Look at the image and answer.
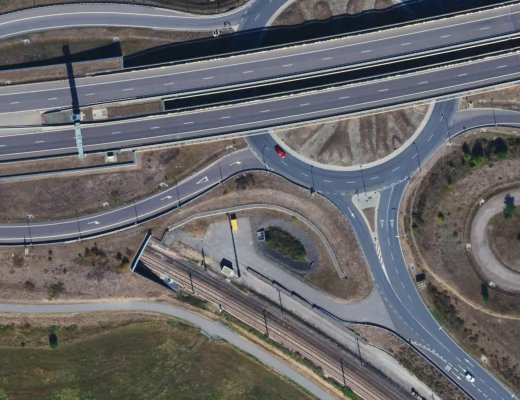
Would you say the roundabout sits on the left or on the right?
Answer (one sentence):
It is on the right.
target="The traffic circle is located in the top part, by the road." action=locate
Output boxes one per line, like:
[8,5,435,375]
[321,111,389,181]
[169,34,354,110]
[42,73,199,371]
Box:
[230,0,461,194]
